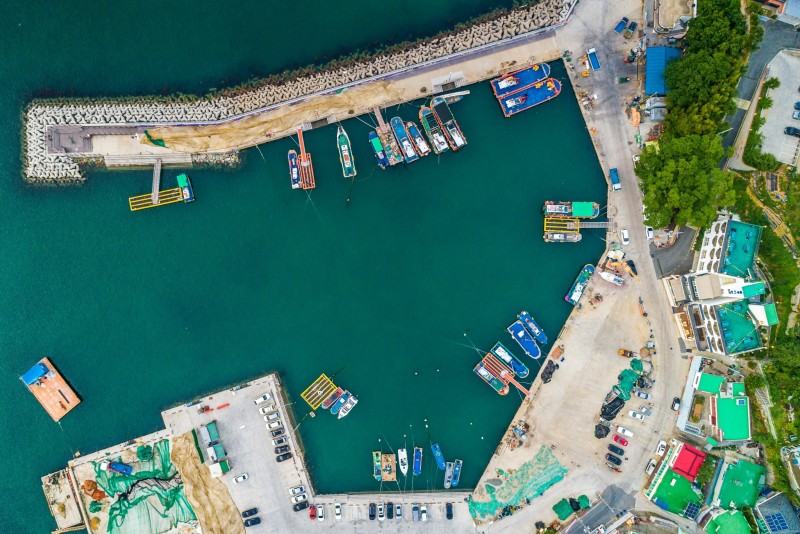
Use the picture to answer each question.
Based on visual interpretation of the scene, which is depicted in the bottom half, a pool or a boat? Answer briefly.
boat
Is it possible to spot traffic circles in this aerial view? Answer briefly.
No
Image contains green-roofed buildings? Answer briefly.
Yes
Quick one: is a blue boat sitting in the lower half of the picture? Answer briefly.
Yes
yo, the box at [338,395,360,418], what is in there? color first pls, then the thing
white boat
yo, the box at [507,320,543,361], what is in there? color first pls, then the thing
blue ship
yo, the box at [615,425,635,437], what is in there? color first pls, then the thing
white vehicle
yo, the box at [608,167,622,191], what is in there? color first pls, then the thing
blue vehicle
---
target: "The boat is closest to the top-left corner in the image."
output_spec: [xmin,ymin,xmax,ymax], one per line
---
[177,171,198,204]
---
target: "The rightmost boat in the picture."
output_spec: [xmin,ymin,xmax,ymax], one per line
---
[602,273,629,286]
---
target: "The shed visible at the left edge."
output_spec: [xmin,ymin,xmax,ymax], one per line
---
[17,361,48,389]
